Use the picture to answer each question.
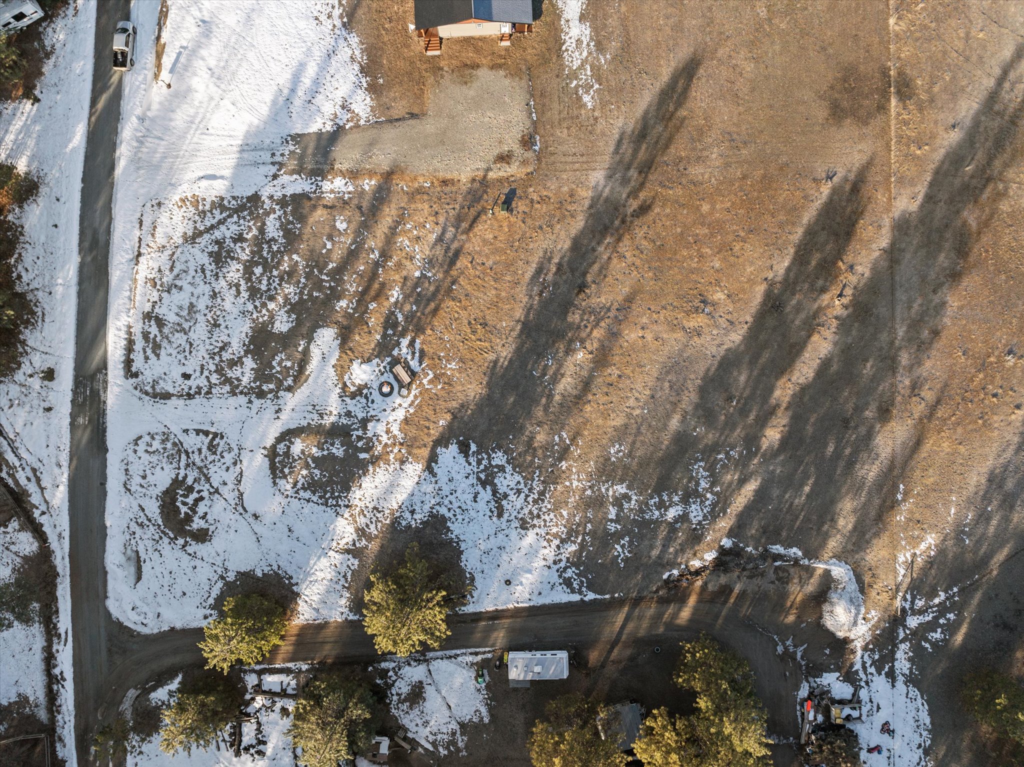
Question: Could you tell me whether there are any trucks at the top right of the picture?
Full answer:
No, I see no truck at the top right of the picture.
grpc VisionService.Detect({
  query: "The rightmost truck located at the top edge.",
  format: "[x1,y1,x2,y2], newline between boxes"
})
[109,21,135,73]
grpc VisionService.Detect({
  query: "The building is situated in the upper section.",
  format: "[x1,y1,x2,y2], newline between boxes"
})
[414,0,533,63]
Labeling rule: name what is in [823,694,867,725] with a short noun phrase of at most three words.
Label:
trailer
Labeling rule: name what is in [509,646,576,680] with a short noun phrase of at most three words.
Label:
vehicle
